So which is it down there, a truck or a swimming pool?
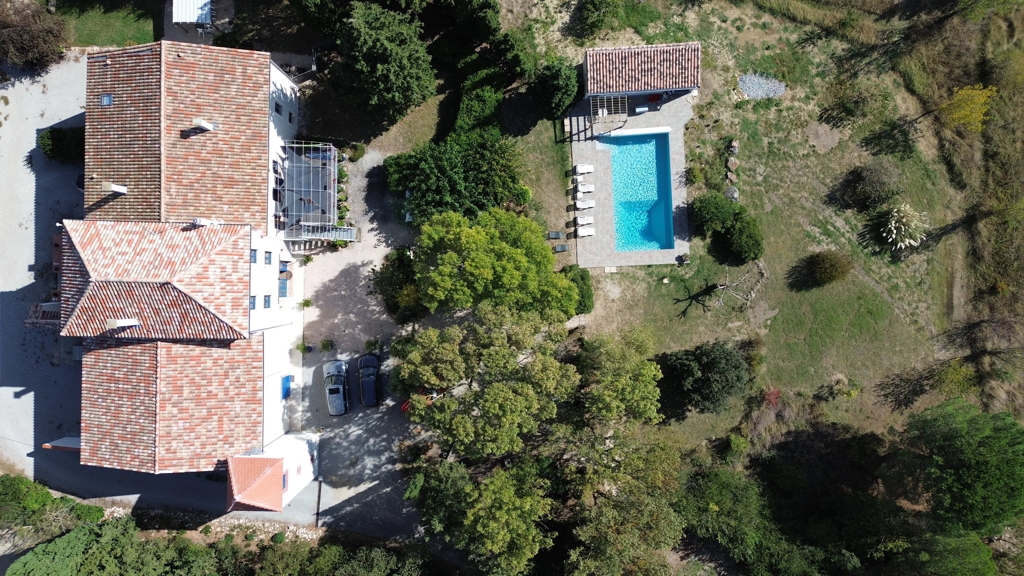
swimming pool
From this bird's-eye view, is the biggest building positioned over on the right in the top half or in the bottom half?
top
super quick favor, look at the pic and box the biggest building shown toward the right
[585,41,702,97]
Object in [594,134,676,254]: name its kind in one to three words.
swimming pool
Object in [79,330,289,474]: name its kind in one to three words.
house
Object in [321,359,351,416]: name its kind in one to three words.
car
